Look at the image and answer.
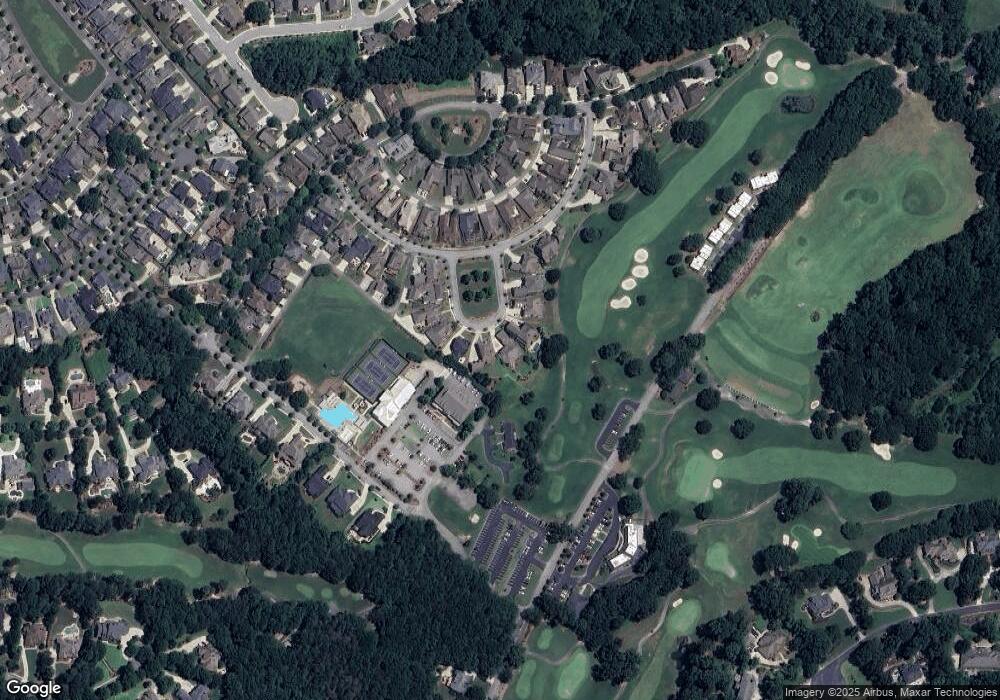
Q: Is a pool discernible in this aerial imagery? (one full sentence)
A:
Yes, you can see a pool in this photo.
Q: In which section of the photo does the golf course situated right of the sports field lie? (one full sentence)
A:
You can find the golf course situated right of the sports field in the right area of the picture.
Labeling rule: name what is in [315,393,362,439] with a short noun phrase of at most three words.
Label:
swimming pool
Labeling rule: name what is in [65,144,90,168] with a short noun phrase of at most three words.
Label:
house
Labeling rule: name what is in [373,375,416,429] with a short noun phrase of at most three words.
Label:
building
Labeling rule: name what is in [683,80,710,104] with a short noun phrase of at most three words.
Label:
house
